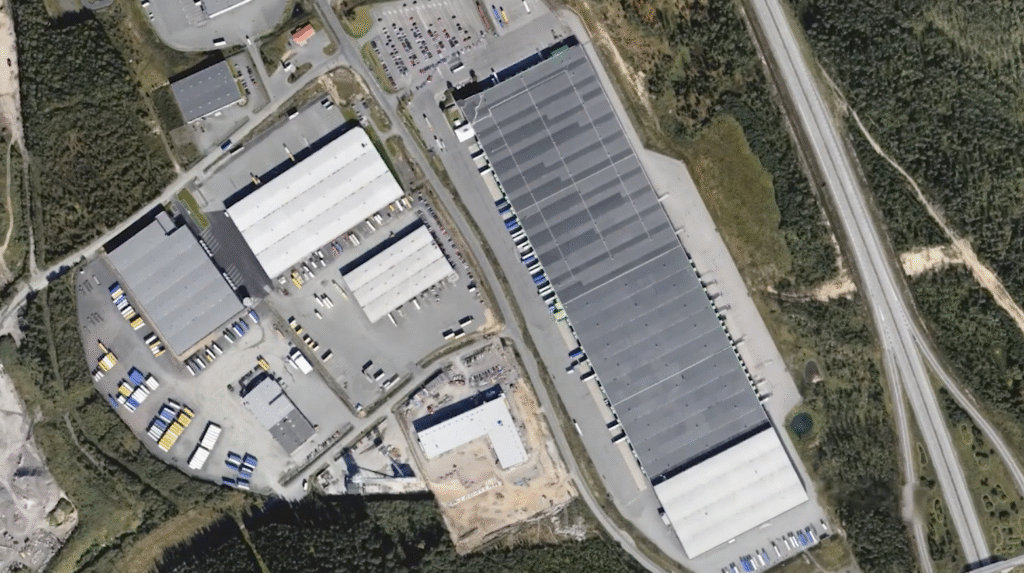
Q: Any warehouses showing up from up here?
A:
Yes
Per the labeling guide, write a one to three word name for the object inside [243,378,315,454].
building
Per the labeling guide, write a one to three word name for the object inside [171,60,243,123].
building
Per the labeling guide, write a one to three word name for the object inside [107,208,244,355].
warehouse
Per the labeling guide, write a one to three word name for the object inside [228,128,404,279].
warehouse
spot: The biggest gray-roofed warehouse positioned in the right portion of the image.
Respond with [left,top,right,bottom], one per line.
[460,41,771,482]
